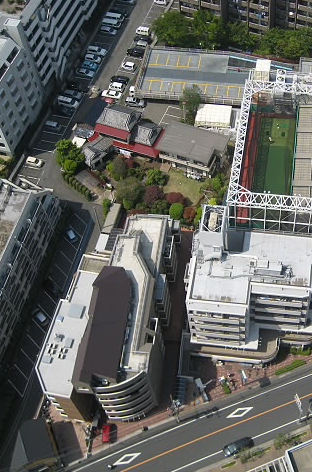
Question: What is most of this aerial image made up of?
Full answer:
The largest share of the image is taken up by buildings.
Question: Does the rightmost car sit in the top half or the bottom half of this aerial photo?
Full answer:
It is in the bottom half that the rightmost car appears.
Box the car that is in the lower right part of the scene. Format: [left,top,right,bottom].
[225,435,253,456]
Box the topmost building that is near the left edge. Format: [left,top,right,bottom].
[0,0,99,90]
